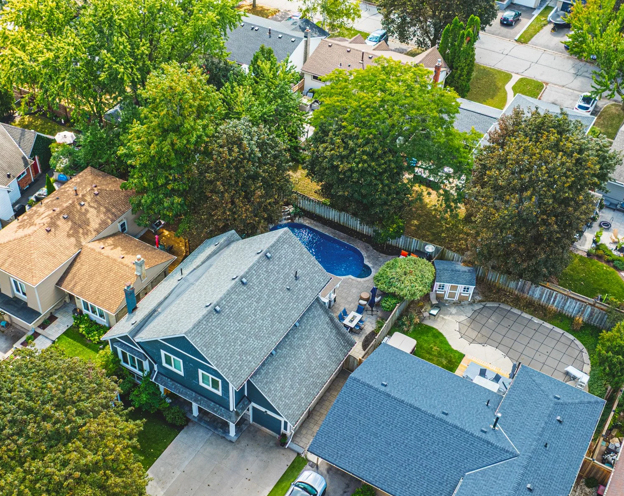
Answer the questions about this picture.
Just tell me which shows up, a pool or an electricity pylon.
pool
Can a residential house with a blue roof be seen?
Yes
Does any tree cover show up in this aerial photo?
Yes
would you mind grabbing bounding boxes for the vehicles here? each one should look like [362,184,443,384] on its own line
[562,35,587,54]
[289,469,330,496]
[571,94,600,115]
[497,10,523,29]
[366,24,392,47]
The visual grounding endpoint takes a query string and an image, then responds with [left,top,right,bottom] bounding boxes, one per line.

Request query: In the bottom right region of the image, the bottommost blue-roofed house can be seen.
[308,342,609,496]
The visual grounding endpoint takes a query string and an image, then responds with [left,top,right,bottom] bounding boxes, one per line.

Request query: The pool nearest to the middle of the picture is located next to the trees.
[268,219,372,280]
